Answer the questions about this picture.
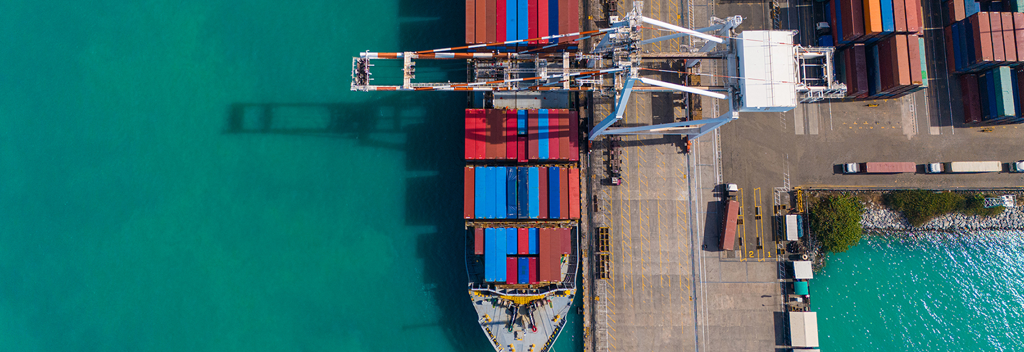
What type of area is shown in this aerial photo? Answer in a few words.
port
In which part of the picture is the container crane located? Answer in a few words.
top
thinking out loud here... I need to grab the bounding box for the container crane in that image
[349,0,858,164]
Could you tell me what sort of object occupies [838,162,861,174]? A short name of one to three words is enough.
vehicle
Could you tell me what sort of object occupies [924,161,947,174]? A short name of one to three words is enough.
vehicle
